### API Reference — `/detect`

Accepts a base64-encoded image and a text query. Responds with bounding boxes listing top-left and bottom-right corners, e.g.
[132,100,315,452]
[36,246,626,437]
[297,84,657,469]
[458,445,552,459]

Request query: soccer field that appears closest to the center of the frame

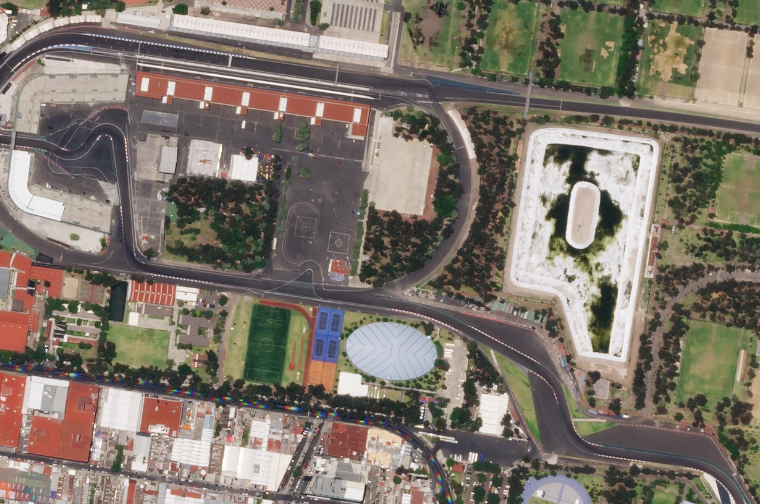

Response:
[243,305,291,385]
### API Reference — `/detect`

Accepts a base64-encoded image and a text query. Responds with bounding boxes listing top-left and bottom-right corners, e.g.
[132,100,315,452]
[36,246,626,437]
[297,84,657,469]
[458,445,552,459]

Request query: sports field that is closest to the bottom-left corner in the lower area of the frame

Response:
[110,324,170,370]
